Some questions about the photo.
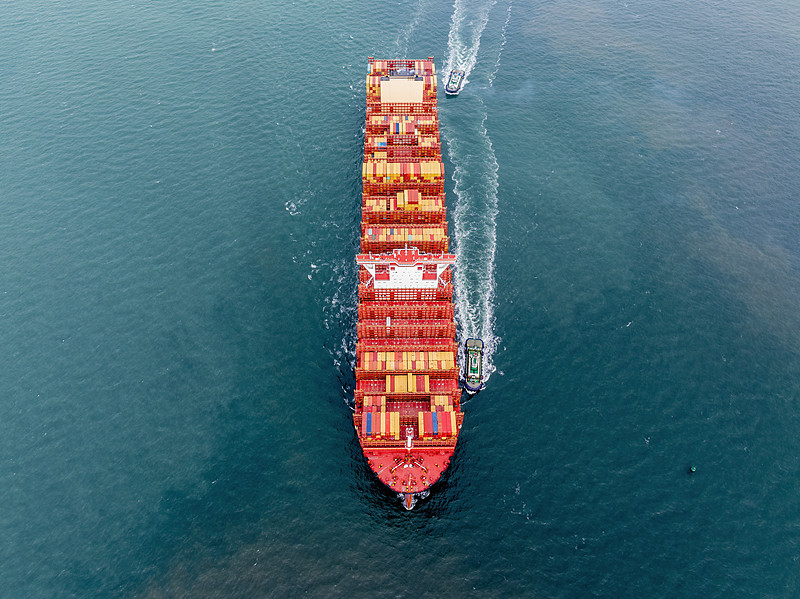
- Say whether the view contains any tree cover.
No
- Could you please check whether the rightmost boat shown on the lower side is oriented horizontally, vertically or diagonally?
vertically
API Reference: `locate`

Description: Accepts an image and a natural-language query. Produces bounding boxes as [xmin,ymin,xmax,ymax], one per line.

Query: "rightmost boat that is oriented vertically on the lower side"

[464,339,485,390]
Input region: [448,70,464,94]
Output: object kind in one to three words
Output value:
boat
